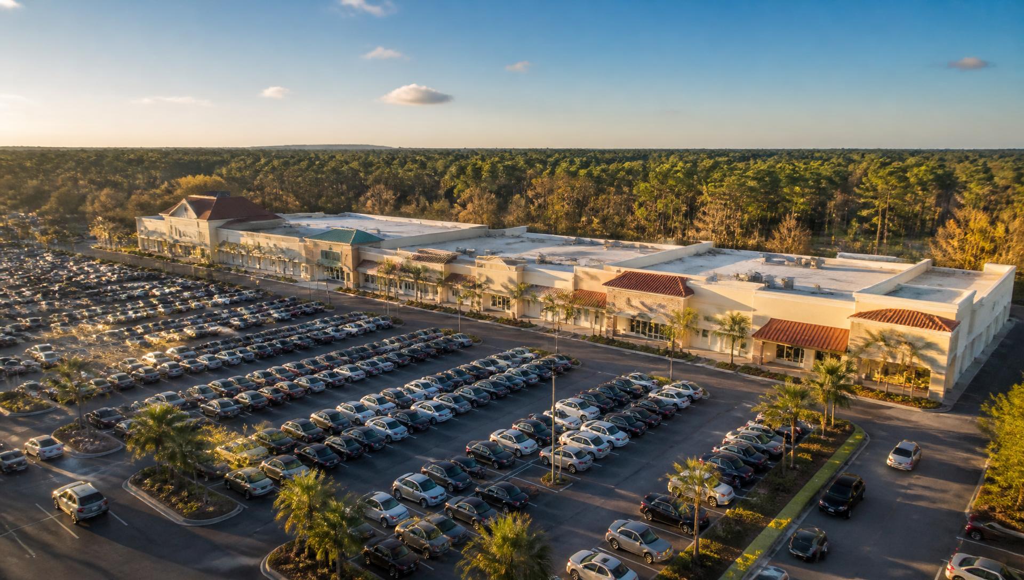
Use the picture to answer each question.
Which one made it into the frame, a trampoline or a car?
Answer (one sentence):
I can see a car in this picture.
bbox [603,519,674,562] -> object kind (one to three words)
car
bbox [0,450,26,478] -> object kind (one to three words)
car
